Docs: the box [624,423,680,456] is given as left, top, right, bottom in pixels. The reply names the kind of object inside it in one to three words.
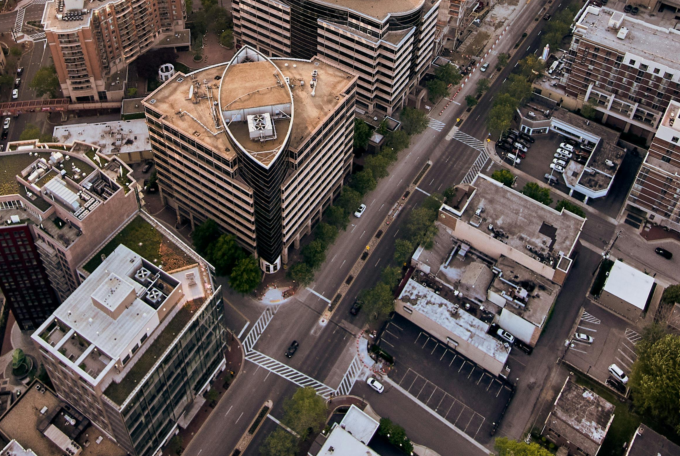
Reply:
building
